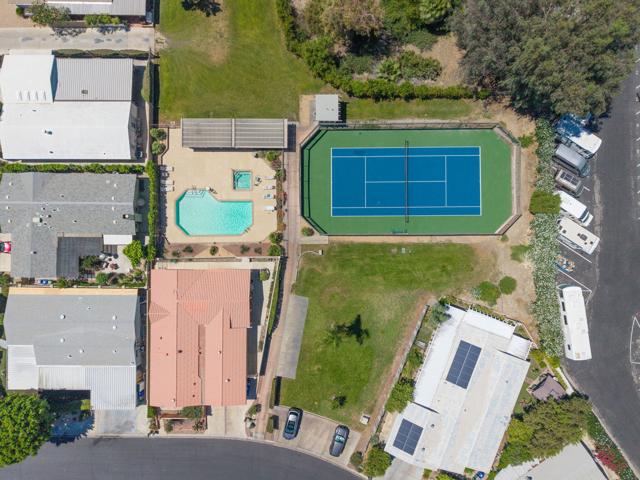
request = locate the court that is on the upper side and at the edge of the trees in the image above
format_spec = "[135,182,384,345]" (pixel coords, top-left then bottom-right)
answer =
[302,128,512,236]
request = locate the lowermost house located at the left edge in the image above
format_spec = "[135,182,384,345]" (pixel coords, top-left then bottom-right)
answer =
[4,288,144,410]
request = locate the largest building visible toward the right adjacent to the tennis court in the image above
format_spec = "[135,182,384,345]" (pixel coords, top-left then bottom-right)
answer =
[383,304,532,473]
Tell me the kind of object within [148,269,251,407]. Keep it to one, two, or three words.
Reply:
house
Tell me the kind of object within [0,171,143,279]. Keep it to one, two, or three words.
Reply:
house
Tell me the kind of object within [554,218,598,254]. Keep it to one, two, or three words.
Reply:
camper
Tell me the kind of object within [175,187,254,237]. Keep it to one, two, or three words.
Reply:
swimming pool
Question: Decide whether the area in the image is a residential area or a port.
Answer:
residential area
